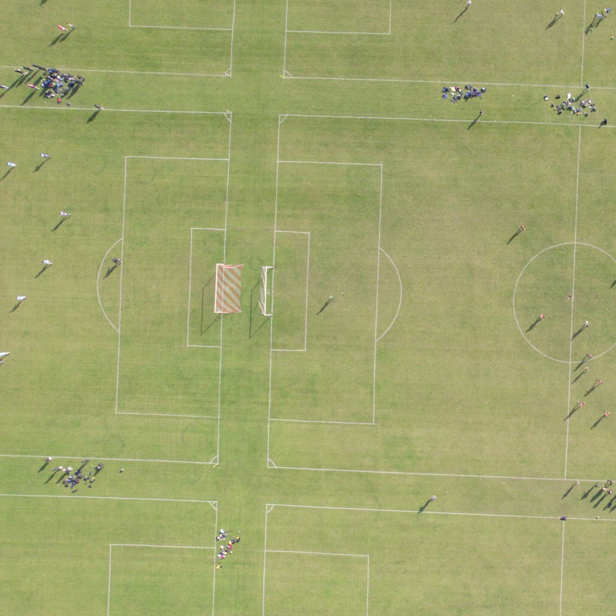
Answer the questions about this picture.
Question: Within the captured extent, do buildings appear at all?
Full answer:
No, there isn't any building down there.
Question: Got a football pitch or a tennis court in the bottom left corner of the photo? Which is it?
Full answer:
The one visible in the bottom left corner of the photo is a football pitch.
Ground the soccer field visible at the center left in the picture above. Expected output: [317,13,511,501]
[0,105,232,465]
